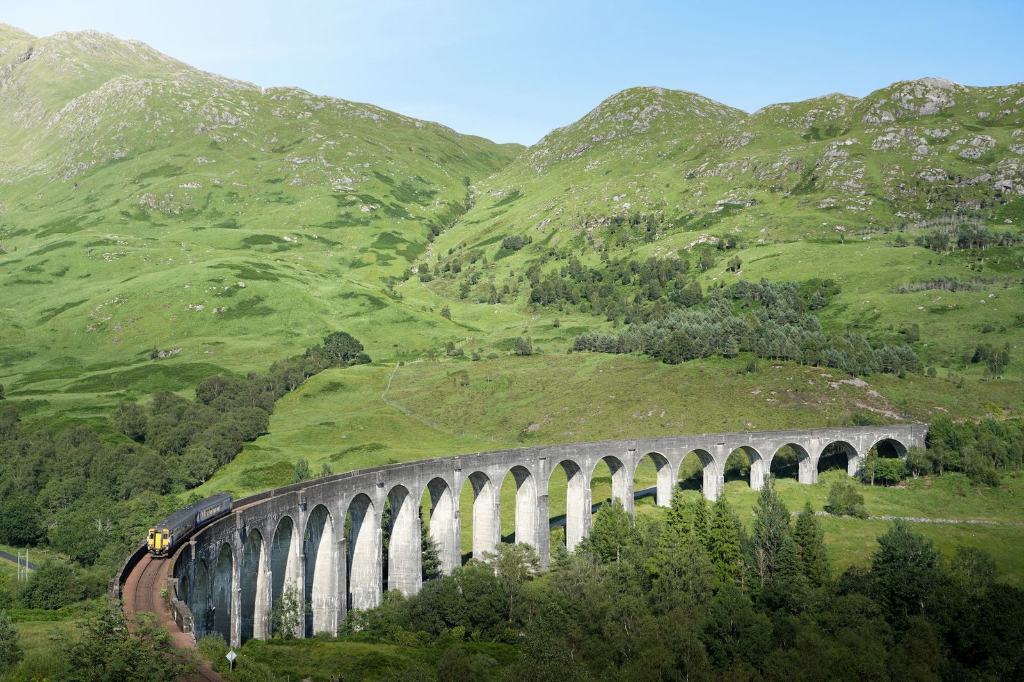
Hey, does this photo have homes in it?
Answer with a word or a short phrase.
No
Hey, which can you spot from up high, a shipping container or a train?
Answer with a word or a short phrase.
train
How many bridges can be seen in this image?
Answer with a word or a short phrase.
1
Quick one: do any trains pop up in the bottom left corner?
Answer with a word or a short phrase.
Yes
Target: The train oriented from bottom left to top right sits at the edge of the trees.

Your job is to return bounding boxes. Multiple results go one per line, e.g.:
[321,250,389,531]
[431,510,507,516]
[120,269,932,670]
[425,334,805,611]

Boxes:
[148,492,233,555]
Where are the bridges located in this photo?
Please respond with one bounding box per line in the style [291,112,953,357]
[99,423,941,649]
